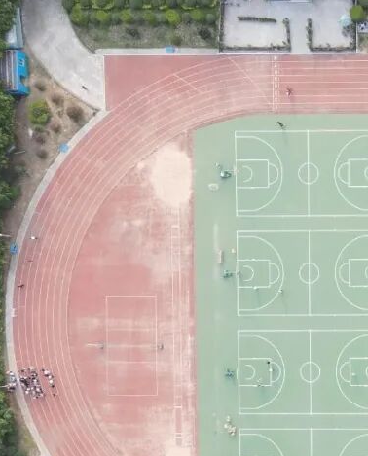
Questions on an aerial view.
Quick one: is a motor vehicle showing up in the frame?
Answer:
No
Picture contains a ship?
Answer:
No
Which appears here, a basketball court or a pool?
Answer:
basketball court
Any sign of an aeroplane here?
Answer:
No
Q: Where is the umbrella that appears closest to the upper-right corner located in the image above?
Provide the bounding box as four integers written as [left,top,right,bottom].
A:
[338,12,352,27]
